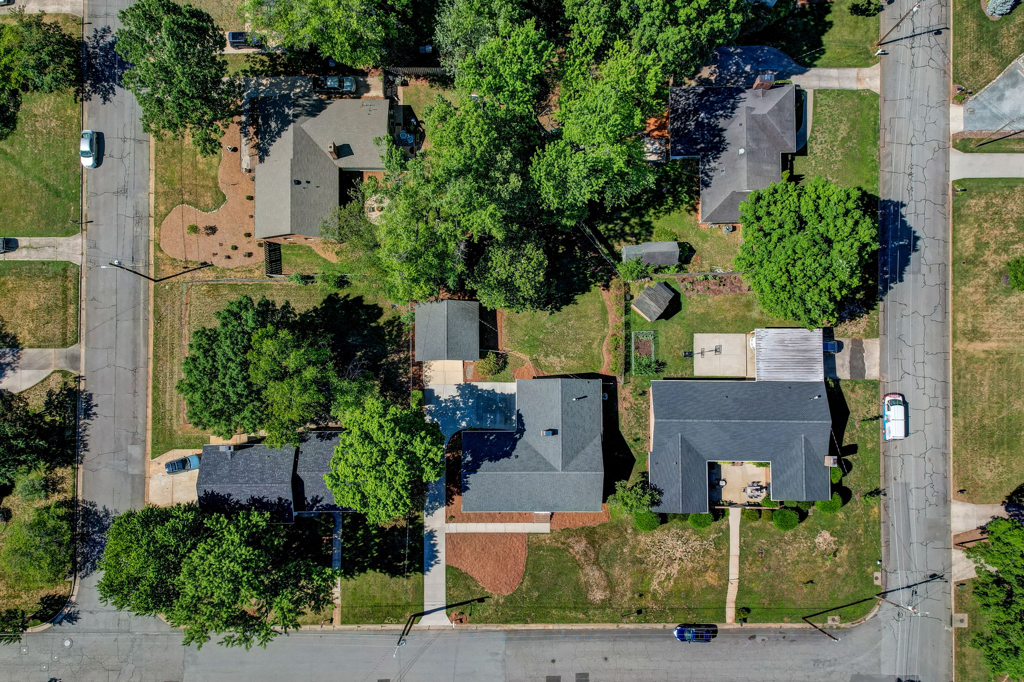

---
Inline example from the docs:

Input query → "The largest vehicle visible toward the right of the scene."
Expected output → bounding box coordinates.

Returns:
[884,393,907,440]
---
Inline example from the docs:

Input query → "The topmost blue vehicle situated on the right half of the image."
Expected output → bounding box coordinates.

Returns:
[824,341,837,356]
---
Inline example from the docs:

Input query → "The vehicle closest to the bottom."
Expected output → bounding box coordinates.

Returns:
[674,628,713,647]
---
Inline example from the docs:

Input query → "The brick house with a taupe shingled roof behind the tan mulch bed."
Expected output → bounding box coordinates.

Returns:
[254,90,390,239]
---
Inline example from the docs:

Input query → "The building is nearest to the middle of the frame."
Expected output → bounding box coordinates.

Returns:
[415,299,479,361]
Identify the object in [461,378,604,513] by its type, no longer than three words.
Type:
house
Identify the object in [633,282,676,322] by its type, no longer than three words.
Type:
shed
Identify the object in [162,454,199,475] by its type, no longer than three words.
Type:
car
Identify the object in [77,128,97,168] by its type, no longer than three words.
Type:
car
